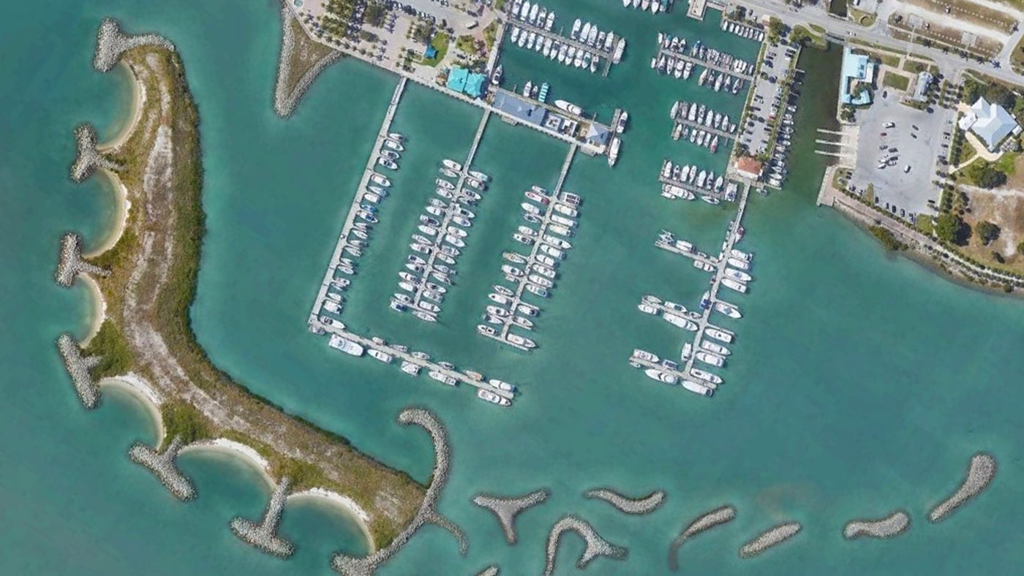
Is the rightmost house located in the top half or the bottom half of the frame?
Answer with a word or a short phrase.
top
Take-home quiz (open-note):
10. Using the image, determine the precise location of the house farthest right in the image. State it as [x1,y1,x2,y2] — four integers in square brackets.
[962,96,1023,152]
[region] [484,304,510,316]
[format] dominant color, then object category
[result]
white boat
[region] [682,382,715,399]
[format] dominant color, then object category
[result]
white boat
